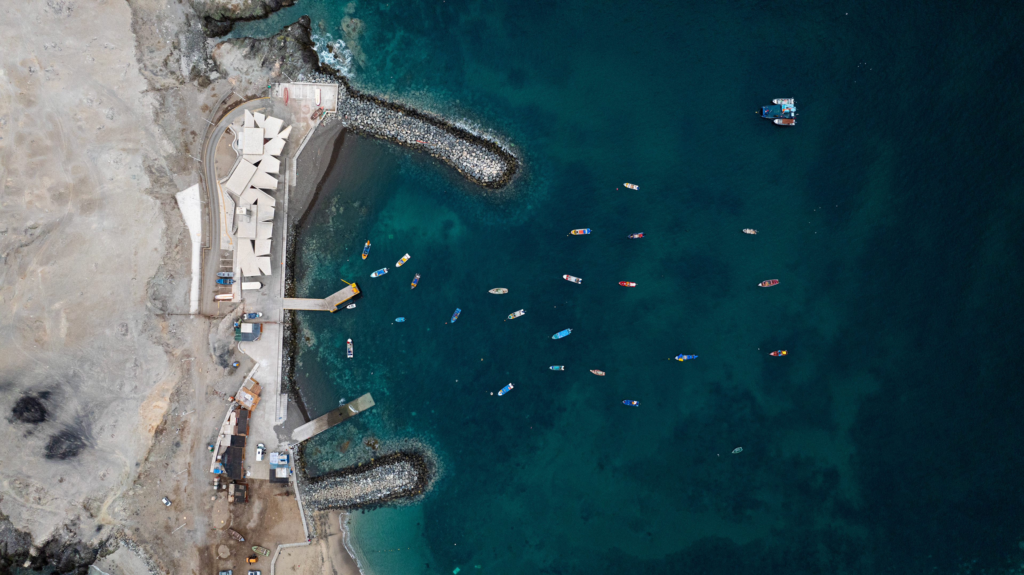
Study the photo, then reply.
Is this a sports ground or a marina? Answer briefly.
marina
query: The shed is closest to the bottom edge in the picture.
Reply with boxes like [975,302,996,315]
[228,480,250,503]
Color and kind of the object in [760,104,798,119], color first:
blue boat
